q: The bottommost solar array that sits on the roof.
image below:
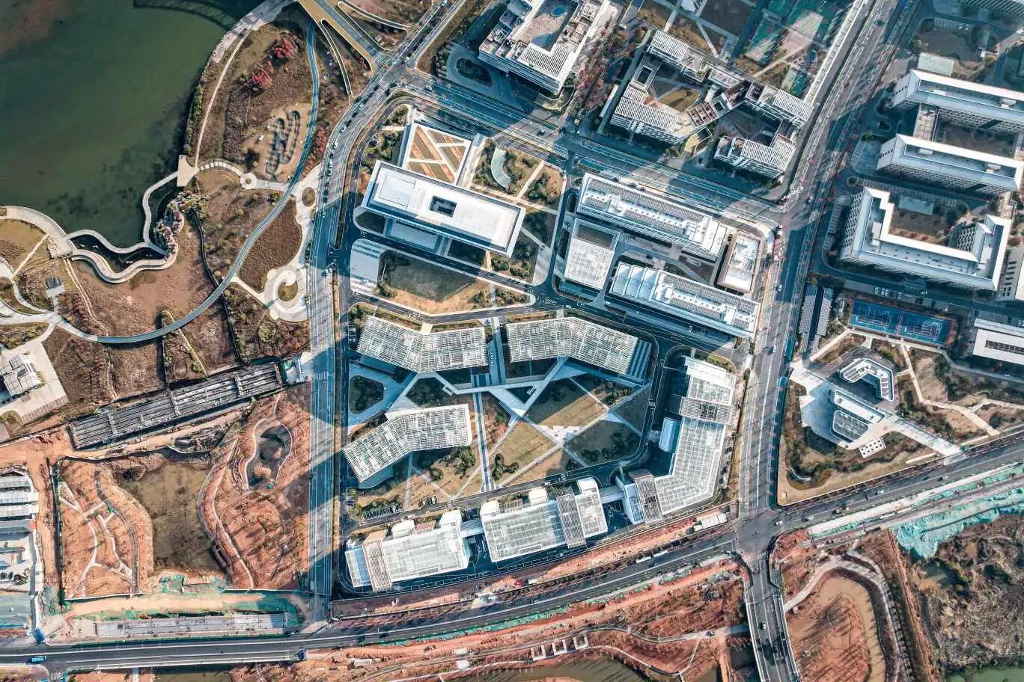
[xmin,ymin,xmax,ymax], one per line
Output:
[836,414,865,434]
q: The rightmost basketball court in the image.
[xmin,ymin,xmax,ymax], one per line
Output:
[899,311,954,346]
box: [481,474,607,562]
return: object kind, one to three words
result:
building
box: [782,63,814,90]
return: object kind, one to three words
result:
sports court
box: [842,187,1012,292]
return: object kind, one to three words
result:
building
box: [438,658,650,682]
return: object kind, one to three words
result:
pond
